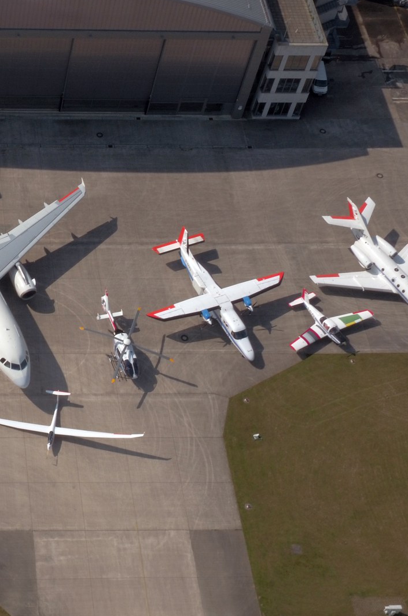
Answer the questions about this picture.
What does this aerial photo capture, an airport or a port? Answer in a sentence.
The area seen from above is an airport.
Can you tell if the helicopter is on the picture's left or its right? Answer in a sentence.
The helicopter appears in the left half of the scene.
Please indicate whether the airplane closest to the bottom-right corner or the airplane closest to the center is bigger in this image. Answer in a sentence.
It is the airplane closest to the center that is larger, not the airplane closest to the bottom-right corner.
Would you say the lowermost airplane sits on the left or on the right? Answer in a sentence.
You can find the lowermost airplane on the left side of the picture.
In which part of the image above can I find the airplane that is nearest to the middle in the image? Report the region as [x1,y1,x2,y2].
[144,229,281,361]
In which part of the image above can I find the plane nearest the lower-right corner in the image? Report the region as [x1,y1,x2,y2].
[289,289,372,352]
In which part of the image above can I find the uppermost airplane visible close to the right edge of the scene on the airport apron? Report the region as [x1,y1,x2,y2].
[312,197,408,305]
